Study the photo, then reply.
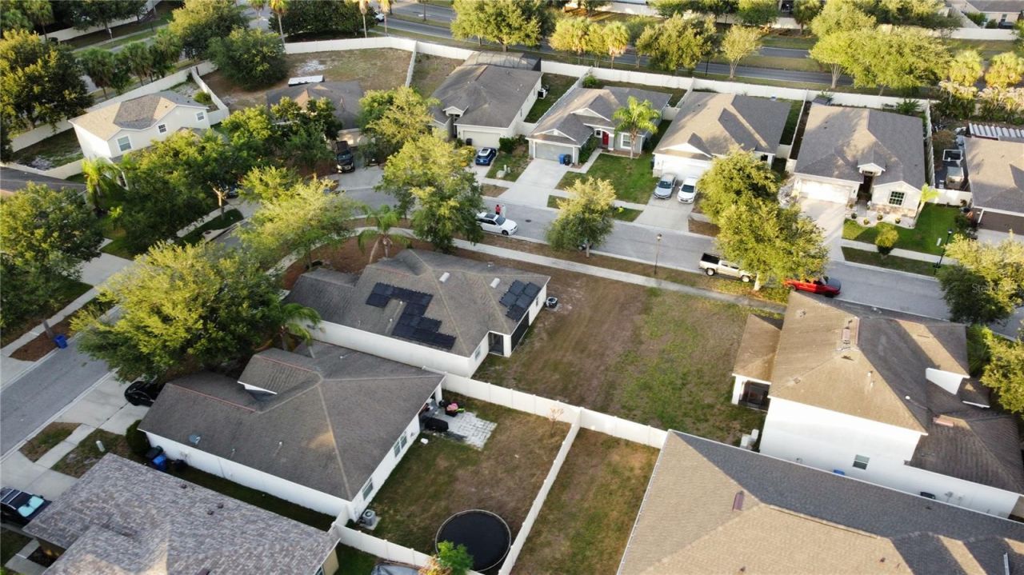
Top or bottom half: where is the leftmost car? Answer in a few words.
bottom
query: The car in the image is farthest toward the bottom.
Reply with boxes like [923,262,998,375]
[0,481,50,536]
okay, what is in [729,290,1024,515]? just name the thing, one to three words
house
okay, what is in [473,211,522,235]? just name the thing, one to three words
car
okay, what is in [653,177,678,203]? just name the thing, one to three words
car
